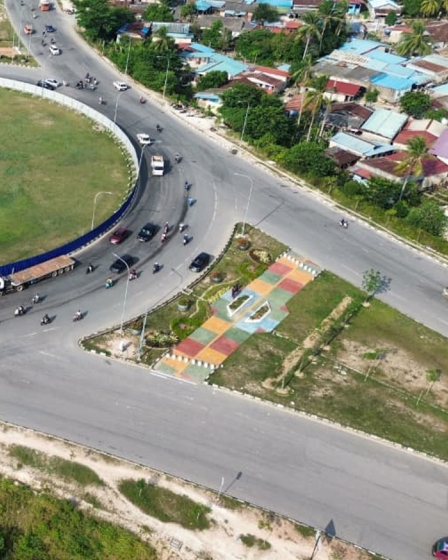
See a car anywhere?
Yes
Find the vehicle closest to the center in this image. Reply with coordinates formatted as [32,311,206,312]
[187,253,213,271]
